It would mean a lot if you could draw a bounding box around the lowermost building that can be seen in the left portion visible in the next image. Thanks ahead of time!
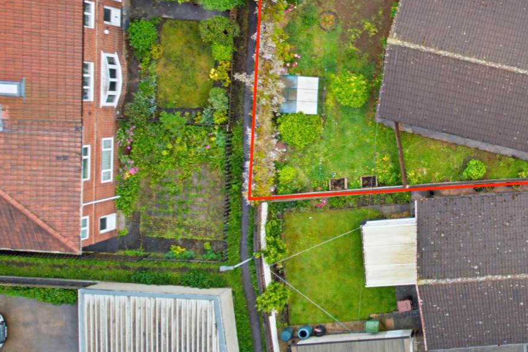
[78,280,241,352]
